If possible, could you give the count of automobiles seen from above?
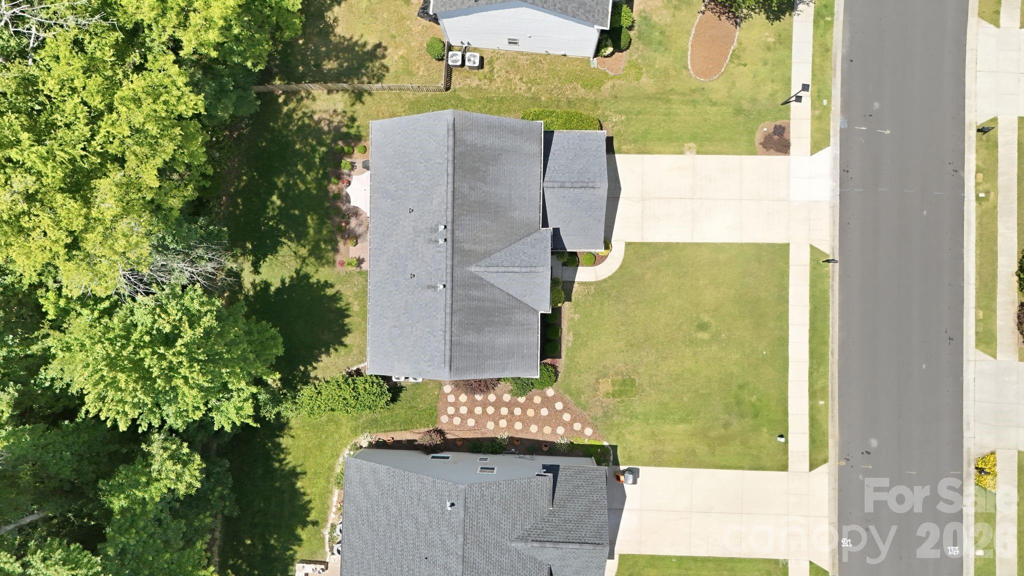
0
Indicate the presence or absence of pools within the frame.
No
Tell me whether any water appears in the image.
No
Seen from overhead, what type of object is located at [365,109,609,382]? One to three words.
house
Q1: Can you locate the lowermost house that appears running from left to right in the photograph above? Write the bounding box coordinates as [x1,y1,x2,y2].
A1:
[341,448,610,576]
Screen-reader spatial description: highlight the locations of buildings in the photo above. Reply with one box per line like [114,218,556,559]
[341,448,610,576]
[428,0,615,57]
[365,109,609,382]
